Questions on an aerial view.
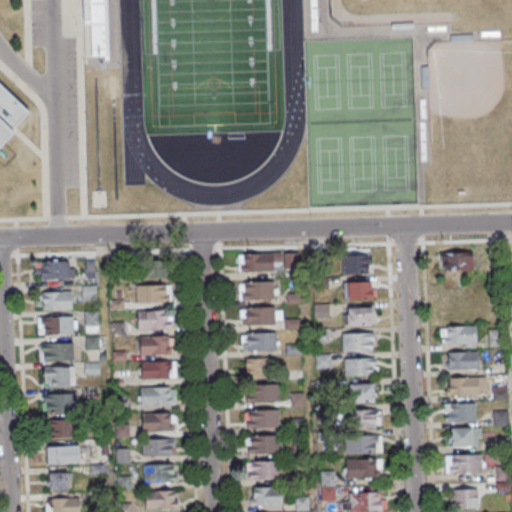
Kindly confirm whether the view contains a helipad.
No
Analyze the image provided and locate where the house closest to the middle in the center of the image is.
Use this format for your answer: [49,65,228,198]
[236,252,285,272]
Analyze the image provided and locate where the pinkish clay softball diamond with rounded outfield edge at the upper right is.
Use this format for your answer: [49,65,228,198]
[429,41,512,150]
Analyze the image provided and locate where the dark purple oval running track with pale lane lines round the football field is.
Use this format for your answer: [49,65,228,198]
[121,0,306,206]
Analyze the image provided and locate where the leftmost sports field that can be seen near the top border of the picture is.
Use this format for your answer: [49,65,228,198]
[143,0,284,136]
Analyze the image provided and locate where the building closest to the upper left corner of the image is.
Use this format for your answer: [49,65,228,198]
[0,81,28,146]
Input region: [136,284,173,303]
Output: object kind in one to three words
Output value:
house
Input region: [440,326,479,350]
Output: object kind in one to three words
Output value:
house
